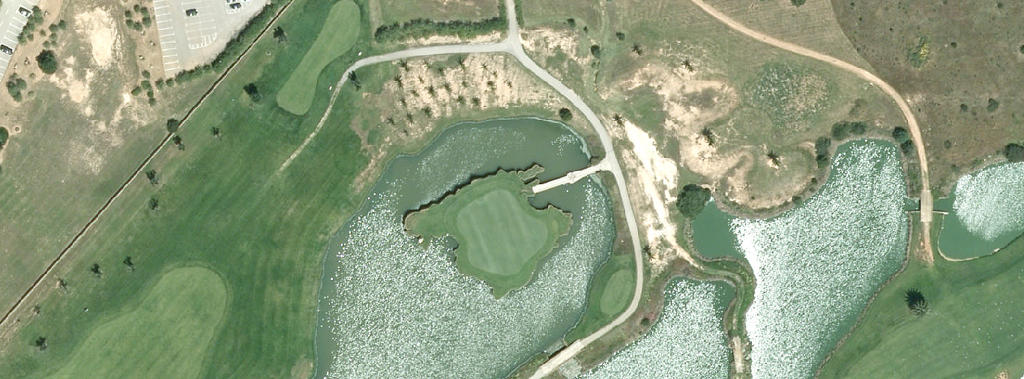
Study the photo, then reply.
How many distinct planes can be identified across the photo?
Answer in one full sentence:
There are no planes in this view.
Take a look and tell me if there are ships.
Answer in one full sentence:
No, there's no ship here.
